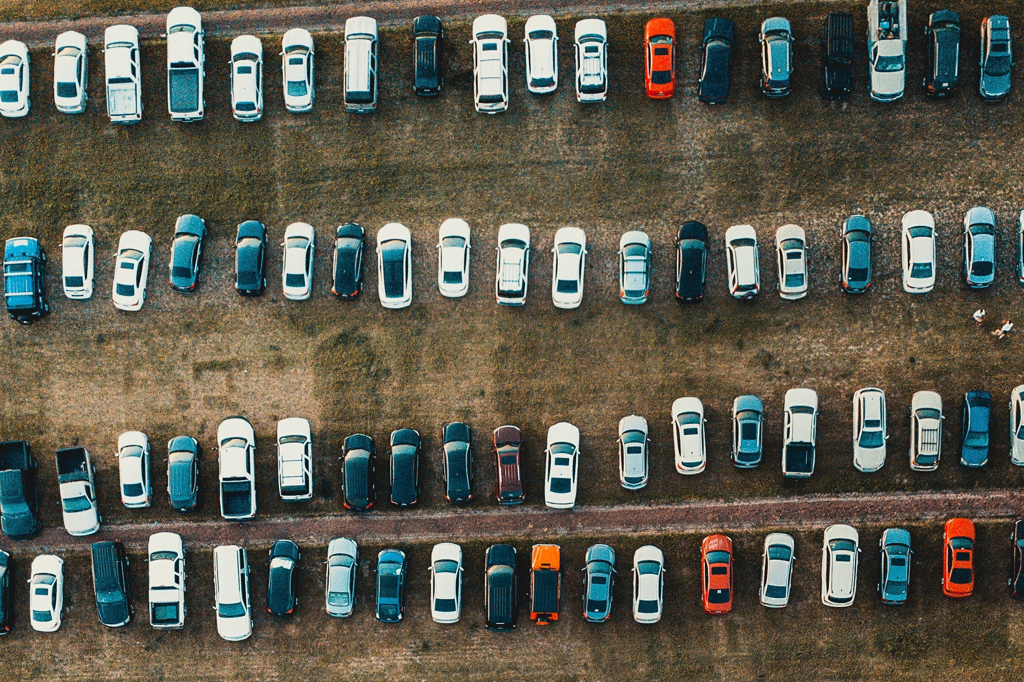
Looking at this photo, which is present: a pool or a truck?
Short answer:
truck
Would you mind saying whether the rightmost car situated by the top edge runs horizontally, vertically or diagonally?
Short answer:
vertically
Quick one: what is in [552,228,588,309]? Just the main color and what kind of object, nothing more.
white car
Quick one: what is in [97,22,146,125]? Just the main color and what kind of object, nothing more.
white truck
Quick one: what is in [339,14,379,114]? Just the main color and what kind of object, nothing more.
white car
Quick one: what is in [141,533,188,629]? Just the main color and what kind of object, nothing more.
white truck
